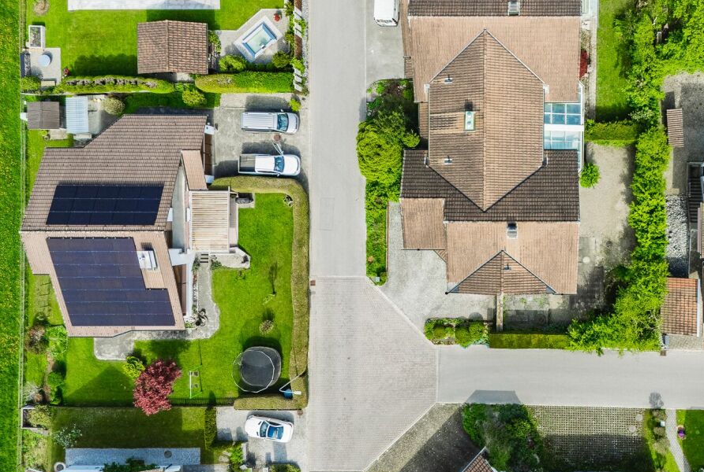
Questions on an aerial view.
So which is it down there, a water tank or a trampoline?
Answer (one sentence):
It is a trampoline that can be seen here.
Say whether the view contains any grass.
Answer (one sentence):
Yes, grass shows up in the scene.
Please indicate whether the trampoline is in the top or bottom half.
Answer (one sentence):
Seen from above, the trampoline lies in the bottom half of the view.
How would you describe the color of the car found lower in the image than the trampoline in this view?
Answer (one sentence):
The car found lower in the image than the trampoline is white.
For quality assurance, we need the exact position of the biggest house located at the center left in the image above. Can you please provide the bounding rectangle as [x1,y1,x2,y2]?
[18,113,237,337]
